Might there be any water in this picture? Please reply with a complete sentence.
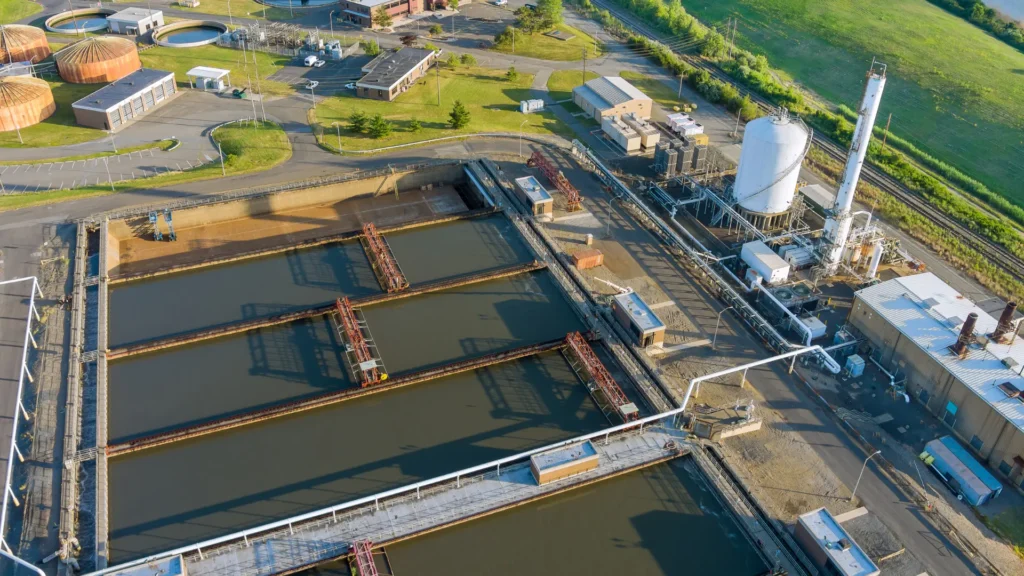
Yes, there's water in this view.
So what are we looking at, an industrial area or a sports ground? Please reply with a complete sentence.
The picture captures an industrial area.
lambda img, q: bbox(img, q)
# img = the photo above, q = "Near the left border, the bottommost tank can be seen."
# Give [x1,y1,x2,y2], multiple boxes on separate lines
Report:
[0,70,55,131]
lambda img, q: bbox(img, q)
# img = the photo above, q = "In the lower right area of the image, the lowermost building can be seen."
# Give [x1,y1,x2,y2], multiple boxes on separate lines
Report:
[792,506,883,576]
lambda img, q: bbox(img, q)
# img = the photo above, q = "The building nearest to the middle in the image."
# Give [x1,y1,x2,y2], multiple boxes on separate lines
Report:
[514,176,556,229]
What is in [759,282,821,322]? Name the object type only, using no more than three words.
cooling tower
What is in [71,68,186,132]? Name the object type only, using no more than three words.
building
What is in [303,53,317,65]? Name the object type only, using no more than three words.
vehicle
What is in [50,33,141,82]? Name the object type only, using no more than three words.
storage tank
